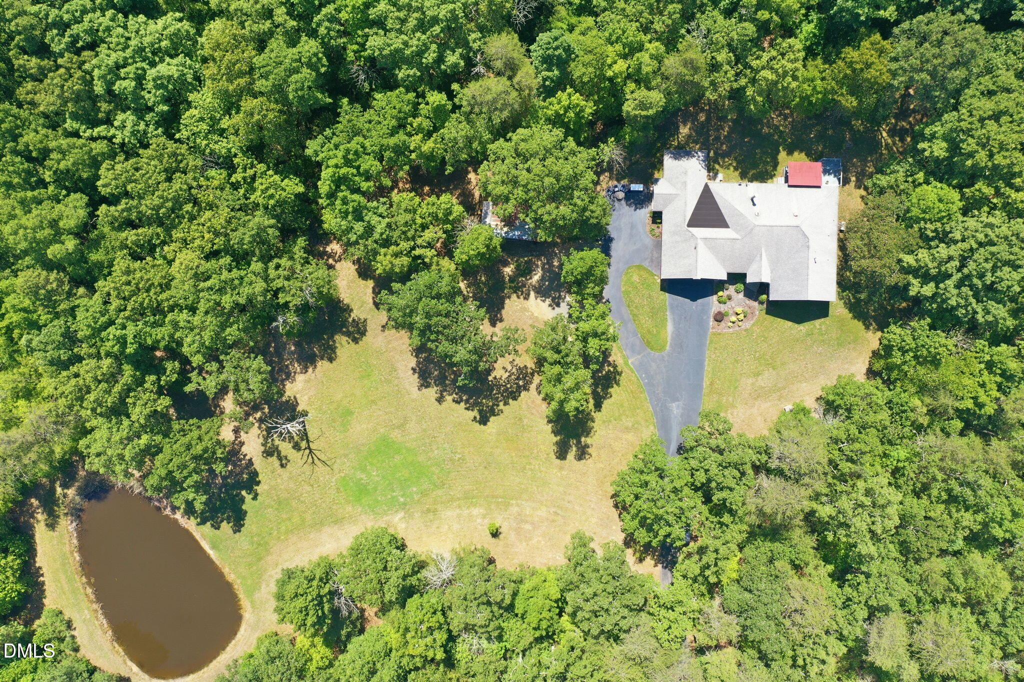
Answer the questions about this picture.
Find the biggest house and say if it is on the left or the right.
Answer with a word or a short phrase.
right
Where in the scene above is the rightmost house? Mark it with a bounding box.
[652,149,839,300]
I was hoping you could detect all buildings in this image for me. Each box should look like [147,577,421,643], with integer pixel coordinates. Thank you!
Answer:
[483,200,543,246]
[652,149,839,300]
